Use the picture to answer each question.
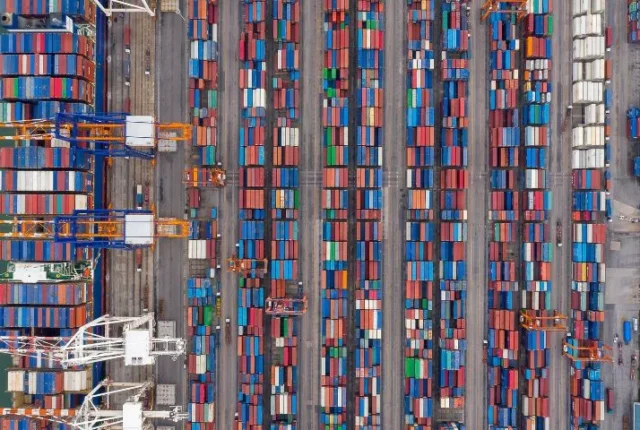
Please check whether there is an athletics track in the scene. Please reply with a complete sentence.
No, I can see no athletics track in this picture.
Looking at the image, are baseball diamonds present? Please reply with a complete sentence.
No, no baseball diamond is visible in the scene.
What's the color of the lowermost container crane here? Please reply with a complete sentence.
The lowermost container crane is white.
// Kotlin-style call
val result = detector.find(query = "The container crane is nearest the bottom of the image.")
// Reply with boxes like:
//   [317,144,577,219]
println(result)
[0,371,188,430]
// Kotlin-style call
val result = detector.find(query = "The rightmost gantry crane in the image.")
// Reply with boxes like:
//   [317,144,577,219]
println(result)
[558,334,613,362]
